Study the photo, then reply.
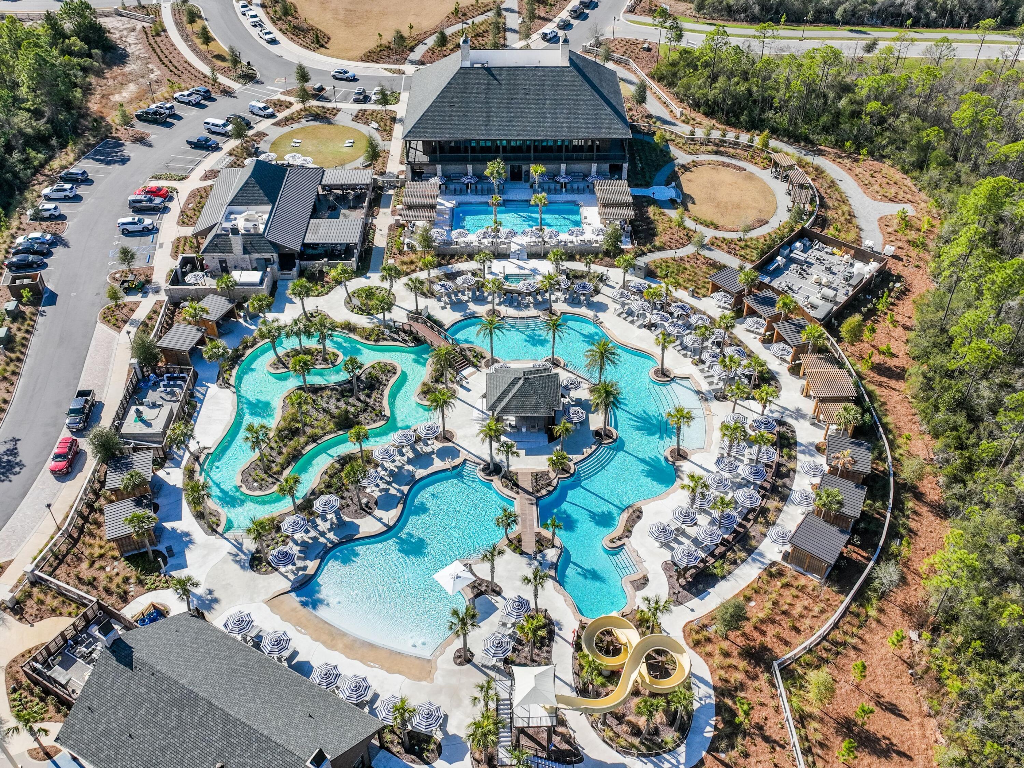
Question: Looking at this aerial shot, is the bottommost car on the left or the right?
left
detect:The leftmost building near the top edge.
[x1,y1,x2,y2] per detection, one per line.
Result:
[402,23,633,181]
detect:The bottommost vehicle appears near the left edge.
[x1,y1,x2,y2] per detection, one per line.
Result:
[48,438,81,475]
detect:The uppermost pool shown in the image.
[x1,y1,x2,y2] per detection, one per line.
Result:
[454,204,581,233]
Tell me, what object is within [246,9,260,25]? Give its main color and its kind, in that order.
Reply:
white vehicle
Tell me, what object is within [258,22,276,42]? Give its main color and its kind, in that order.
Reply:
white vehicle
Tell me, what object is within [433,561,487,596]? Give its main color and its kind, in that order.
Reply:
white umbrella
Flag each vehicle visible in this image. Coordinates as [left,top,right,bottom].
[42,184,76,200]
[135,107,169,124]
[184,134,220,151]
[5,256,43,271]
[16,232,53,246]
[575,0,596,8]
[190,85,215,100]
[539,27,559,42]
[333,66,359,83]
[248,99,275,117]
[225,111,253,127]
[129,194,164,212]
[12,242,49,257]
[238,0,250,13]
[566,5,586,18]
[58,167,91,183]
[553,19,574,31]
[117,216,153,233]
[137,187,168,200]
[48,438,81,475]
[352,85,365,104]
[27,203,61,219]
[61,391,99,430]
[171,89,204,105]
[202,116,235,136]
[371,88,383,103]
[258,22,276,42]
[151,101,177,115]
[246,9,260,25]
